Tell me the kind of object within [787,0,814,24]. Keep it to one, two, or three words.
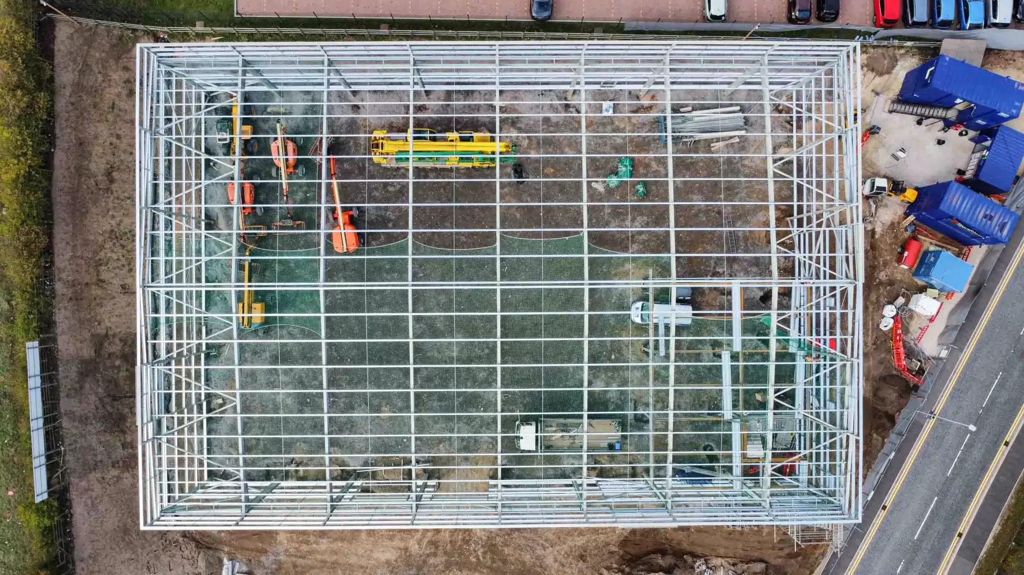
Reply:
car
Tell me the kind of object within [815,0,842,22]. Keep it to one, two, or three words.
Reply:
car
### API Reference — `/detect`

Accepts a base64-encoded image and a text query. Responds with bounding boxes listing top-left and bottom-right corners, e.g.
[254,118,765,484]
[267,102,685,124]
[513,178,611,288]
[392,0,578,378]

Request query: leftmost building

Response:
[135,41,865,530]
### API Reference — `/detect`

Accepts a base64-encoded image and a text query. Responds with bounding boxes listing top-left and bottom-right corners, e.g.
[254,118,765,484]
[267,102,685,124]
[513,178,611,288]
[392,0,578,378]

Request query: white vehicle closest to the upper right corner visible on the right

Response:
[986,0,1017,27]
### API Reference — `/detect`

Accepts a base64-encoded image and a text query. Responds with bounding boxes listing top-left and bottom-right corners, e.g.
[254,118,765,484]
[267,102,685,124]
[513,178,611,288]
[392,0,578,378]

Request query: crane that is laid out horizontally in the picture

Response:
[369,128,519,169]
